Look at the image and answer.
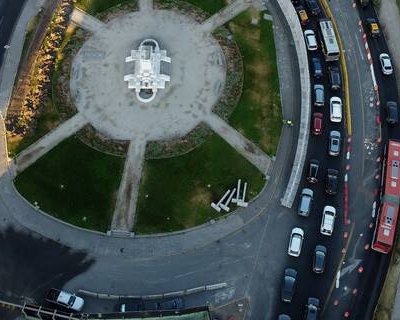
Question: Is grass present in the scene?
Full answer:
Yes, there is grass in the image.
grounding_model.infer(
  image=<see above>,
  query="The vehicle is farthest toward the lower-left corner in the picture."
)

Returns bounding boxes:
[45,287,84,314]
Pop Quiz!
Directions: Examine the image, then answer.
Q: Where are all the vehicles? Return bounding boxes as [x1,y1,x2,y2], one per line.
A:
[374,139,400,264]
[311,243,329,275]
[45,287,84,314]
[381,54,392,74]
[320,206,337,236]
[314,84,327,108]
[311,58,324,77]
[331,99,342,121]
[307,159,321,185]
[366,19,382,39]
[287,228,304,259]
[313,113,324,135]
[305,295,322,320]
[386,100,399,125]
[329,131,343,157]
[325,170,339,195]
[329,68,341,89]
[359,0,369,7]
[321,17,340,61]
[306,32,317,51]
[297,187,315,218]
[298,8,311,25]
[305,0,320,15]
[280,269,298,303]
